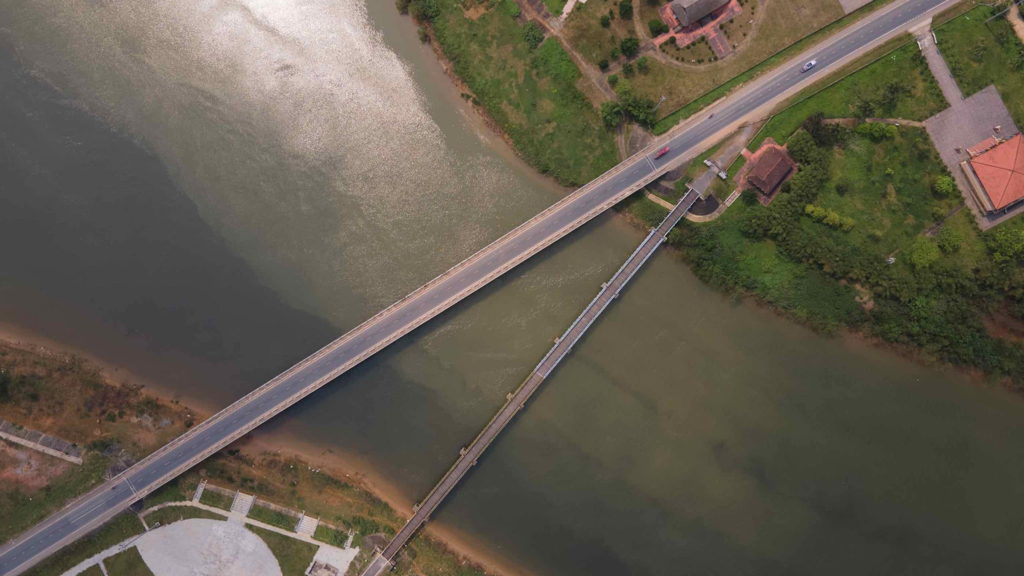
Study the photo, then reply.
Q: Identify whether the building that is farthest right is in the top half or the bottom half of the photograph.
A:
top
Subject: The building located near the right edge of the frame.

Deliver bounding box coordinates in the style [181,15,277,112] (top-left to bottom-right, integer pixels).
[956,133,1024,211]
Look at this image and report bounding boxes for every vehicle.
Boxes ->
[654,147,670,158]
[800,61,816,72]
